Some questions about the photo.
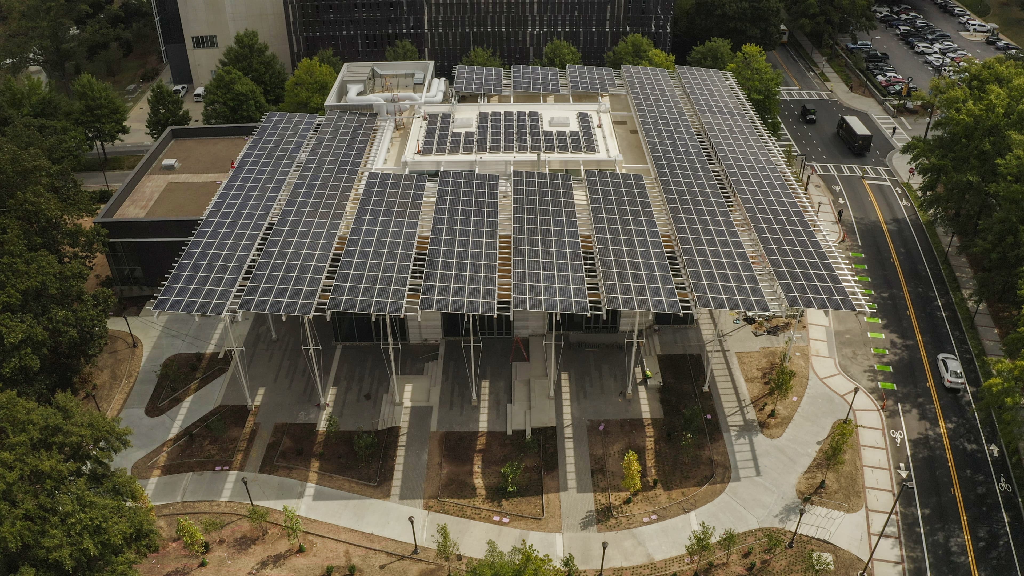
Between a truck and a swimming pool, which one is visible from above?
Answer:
truck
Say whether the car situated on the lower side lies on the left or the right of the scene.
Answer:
right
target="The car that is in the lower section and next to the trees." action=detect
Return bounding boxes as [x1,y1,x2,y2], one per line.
[935,353,968,391]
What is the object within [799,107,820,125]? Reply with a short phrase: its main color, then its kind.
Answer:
black car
